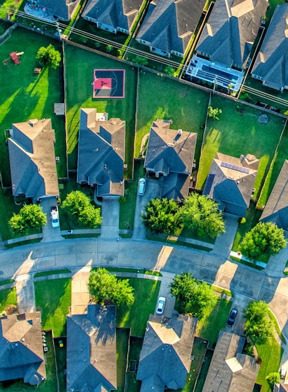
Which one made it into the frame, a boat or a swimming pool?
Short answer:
swimming pool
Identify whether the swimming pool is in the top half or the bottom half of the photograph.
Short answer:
top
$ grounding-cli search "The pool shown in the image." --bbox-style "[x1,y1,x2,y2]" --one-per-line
[186,53,247,95]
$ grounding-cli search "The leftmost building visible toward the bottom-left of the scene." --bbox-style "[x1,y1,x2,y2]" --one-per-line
[0,309,44,378]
